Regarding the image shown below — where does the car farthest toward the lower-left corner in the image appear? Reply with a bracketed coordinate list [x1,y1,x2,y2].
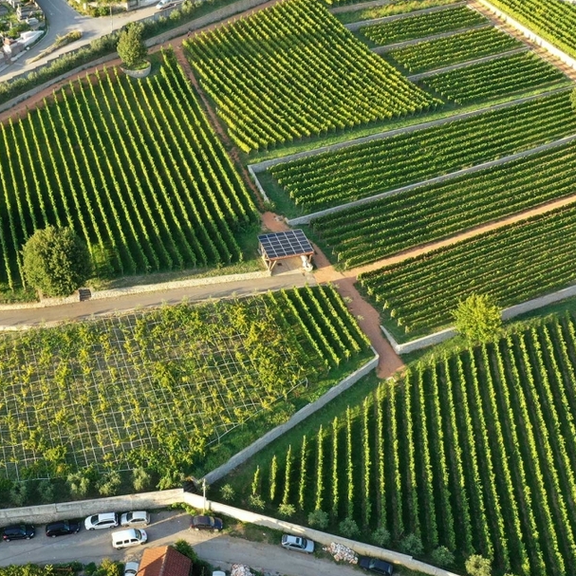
[1,523,34,542]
